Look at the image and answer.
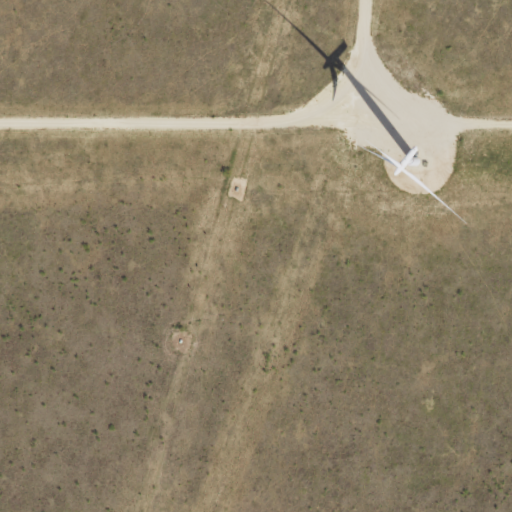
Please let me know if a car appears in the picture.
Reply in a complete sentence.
No, no car is visible in the view.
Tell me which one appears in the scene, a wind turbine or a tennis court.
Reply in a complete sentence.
The one in the frame is a wind turbine.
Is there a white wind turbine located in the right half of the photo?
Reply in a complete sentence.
Yes, the scene does show a white wind turbine in the right half of the photo.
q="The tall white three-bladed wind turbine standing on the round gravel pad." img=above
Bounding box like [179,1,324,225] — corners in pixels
[362,144,465,221]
